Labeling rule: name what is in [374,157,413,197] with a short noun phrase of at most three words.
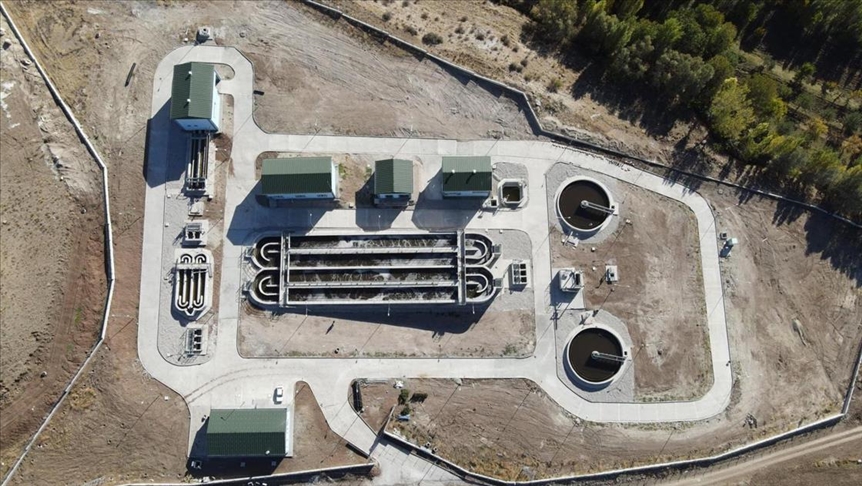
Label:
building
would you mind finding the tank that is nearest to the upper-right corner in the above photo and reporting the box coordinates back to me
[551,179,619,239]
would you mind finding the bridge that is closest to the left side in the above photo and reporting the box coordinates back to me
[277,234,292,307]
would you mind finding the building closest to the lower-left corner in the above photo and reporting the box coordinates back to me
[203,407,291,459]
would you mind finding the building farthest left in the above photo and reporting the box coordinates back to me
[170,59,225,132]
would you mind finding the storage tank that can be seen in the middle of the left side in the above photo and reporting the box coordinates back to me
[172,248,219,331]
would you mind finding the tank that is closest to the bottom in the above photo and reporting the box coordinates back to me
[561,323,629,390]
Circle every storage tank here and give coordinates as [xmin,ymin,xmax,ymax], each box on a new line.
[561,323,629,390]
[172,248,219,331]
[551,179,619,239]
